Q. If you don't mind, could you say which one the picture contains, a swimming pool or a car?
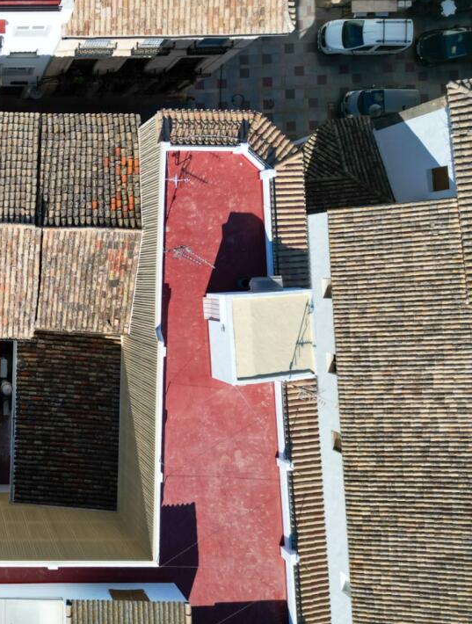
car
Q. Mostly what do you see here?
buildings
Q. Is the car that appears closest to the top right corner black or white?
black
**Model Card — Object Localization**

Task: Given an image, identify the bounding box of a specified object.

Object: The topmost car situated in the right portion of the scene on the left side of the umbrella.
[316,13,416,59]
